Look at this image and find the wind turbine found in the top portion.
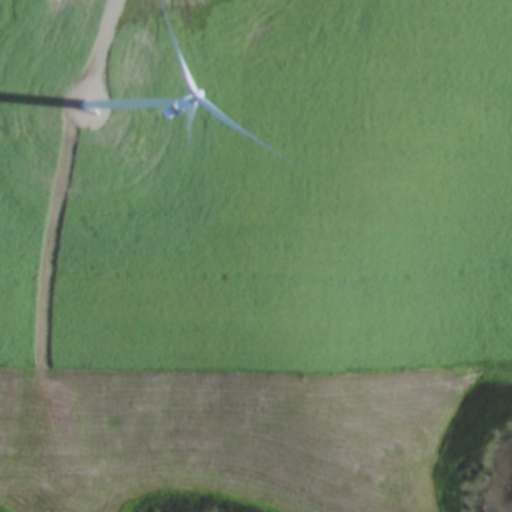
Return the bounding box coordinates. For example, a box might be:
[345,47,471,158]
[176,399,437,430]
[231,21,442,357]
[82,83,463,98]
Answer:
[80,0,290,159]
